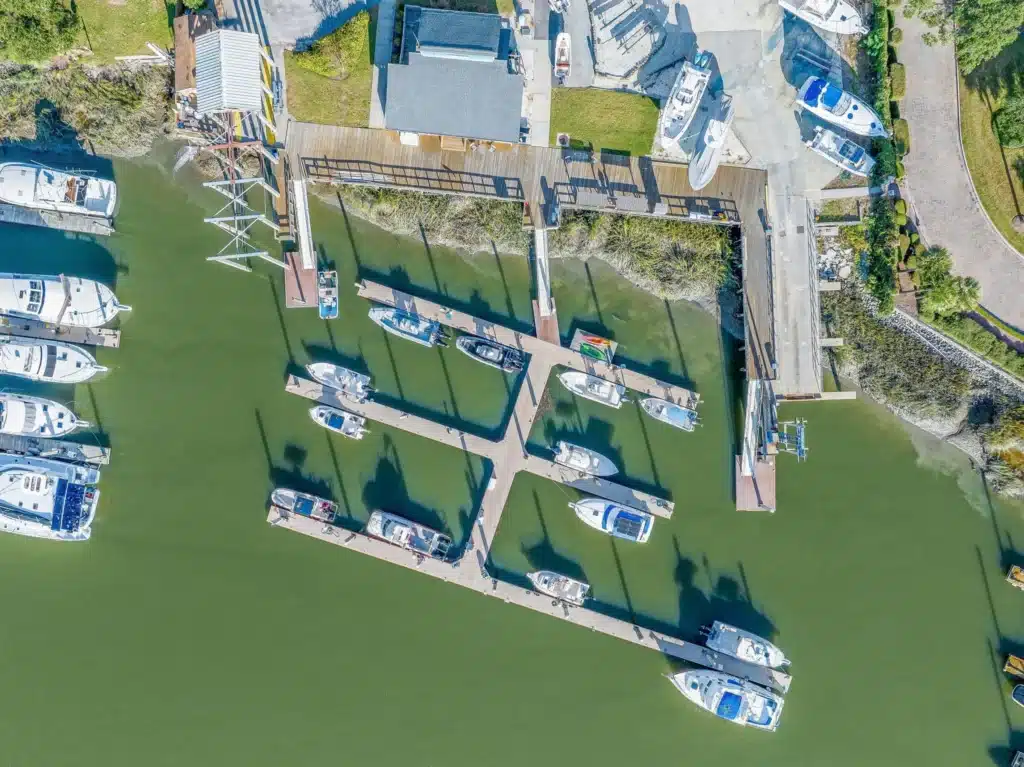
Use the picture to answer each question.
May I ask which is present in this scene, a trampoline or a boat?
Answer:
boat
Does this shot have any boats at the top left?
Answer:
Yes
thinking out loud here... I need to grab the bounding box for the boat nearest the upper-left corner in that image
[0,153,121,222]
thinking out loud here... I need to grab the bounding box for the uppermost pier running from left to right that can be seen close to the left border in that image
[0,203,115,237]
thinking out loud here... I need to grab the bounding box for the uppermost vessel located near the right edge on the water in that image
[999,560,1024,590]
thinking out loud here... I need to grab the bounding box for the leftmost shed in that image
[195,28,273,128]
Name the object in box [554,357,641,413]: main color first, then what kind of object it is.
white boat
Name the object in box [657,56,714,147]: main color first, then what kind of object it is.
white boat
